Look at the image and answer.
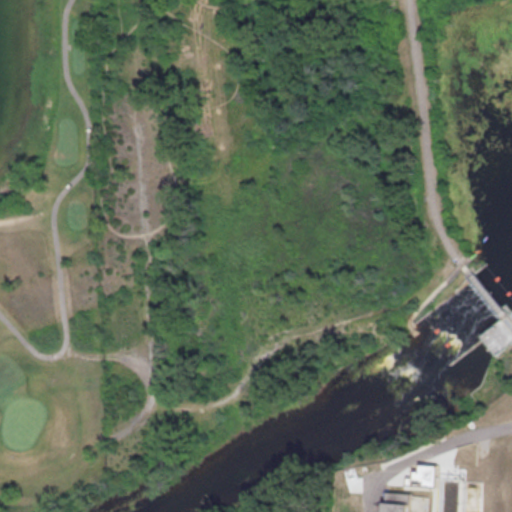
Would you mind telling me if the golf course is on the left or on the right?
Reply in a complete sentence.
The golf course is on the left side of the image.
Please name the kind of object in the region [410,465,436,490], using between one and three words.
building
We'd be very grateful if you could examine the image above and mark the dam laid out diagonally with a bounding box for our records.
[460,262,504,318]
